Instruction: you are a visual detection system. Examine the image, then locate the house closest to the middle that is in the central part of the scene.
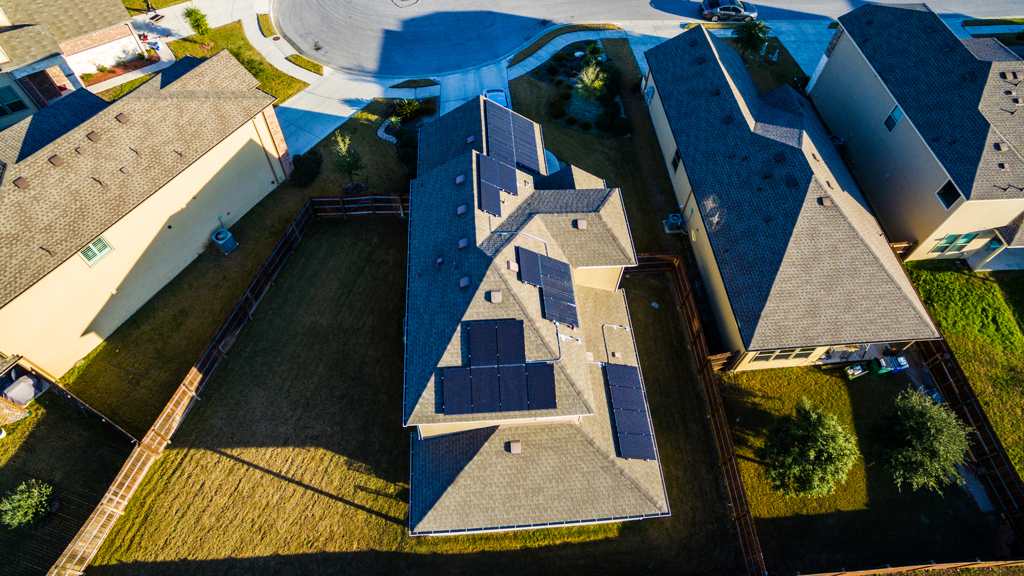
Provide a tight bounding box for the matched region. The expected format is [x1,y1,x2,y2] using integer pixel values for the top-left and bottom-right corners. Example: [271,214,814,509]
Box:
[400,92,674,540]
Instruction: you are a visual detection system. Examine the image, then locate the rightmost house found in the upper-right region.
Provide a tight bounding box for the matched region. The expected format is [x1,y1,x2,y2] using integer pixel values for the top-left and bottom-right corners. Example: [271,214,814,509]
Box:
[813,3,1024,270]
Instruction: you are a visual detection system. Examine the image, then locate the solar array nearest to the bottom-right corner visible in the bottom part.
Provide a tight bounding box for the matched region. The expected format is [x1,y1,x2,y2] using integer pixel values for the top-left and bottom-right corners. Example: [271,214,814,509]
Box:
[608,362,658,462]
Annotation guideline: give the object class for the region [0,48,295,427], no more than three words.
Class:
house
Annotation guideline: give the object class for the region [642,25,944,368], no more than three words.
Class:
house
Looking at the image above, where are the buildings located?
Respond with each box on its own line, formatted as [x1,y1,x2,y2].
[0,48,295,427]
[400,92,674,540]
[642,25,944,368]
[813,3,1024,270]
